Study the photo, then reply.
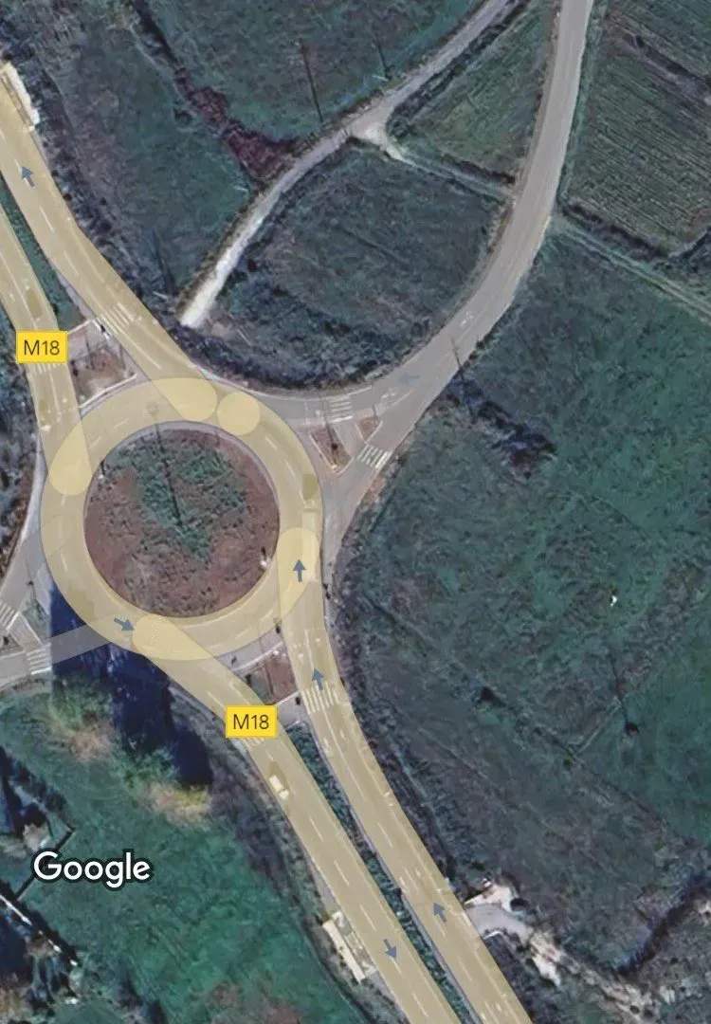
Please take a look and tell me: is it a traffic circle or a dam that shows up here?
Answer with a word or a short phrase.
traffic circle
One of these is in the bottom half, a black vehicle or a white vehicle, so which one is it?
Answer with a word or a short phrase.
white vehicle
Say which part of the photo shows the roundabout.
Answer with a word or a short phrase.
left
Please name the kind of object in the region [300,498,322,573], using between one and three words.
truck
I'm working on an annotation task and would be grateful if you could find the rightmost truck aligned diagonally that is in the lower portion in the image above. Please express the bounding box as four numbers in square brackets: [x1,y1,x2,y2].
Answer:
[267,773,293,802]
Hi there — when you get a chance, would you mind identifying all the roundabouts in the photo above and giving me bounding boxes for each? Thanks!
[41,377,323,660]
